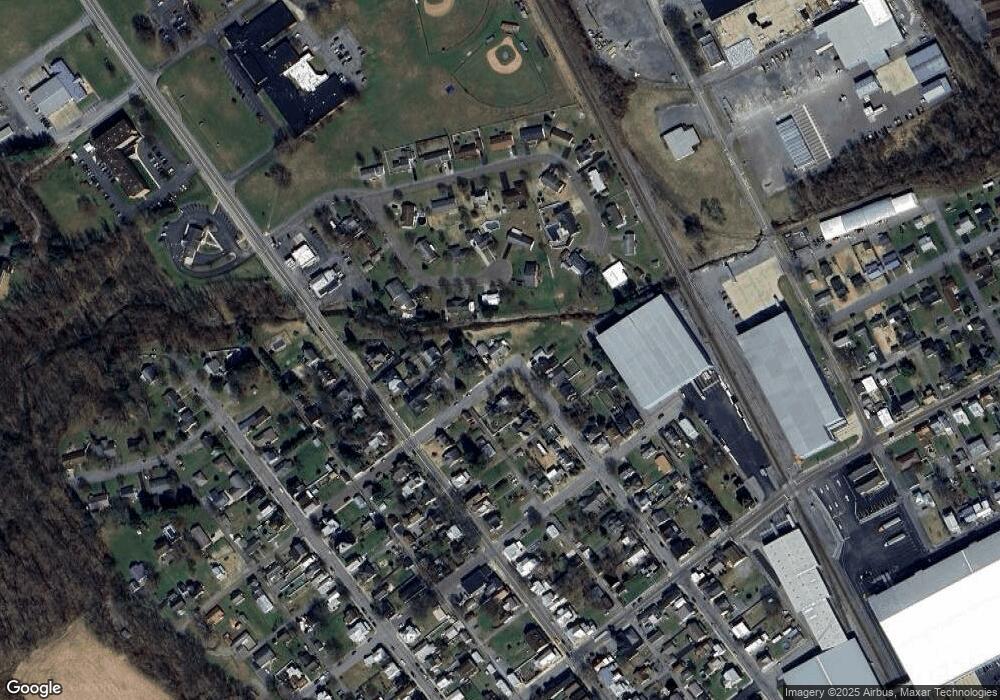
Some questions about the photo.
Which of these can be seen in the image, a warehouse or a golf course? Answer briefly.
warehouse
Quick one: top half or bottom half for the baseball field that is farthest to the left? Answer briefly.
top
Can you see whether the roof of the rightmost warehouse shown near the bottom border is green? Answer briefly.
No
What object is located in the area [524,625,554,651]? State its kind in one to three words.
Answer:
house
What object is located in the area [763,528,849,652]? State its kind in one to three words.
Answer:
building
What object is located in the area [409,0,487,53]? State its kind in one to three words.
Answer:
baseball field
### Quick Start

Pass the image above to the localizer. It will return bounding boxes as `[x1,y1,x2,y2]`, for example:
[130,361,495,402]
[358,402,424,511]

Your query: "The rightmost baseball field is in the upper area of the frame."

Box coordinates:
[453,32,547,106]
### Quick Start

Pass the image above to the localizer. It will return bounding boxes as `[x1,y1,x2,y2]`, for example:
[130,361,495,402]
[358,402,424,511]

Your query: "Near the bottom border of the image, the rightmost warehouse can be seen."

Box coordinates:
[868,532,1000,698]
